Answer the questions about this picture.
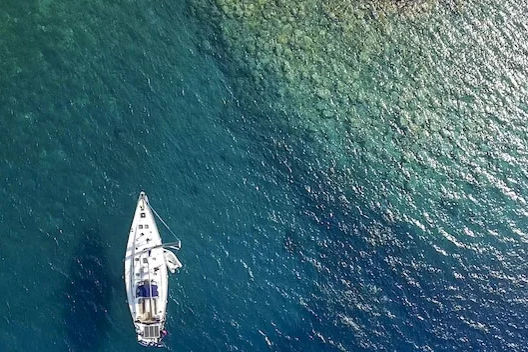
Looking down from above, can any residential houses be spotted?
No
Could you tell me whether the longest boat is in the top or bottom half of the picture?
bottom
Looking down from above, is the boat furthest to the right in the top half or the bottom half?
bottom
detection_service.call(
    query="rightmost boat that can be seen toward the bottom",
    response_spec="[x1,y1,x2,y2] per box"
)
[164,249,183,274]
